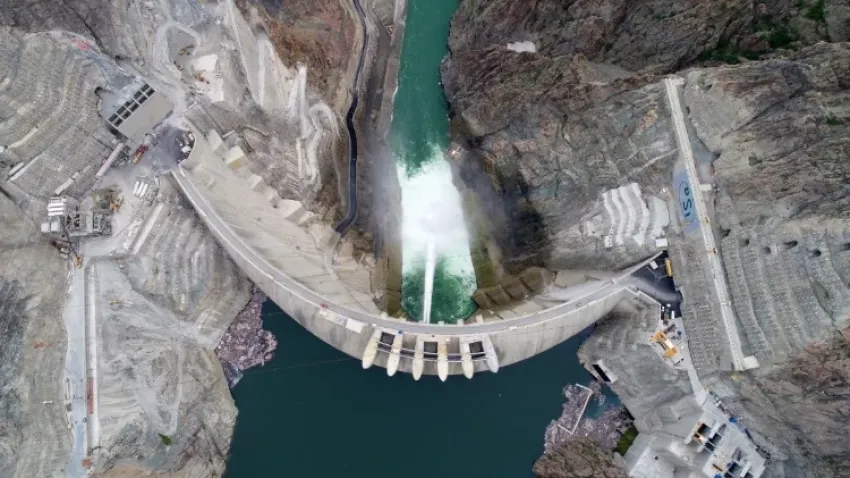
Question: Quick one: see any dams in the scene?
Yes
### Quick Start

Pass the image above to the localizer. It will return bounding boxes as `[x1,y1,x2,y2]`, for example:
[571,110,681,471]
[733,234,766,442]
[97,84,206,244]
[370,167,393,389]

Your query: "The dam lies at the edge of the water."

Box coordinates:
[171,120,664,382]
